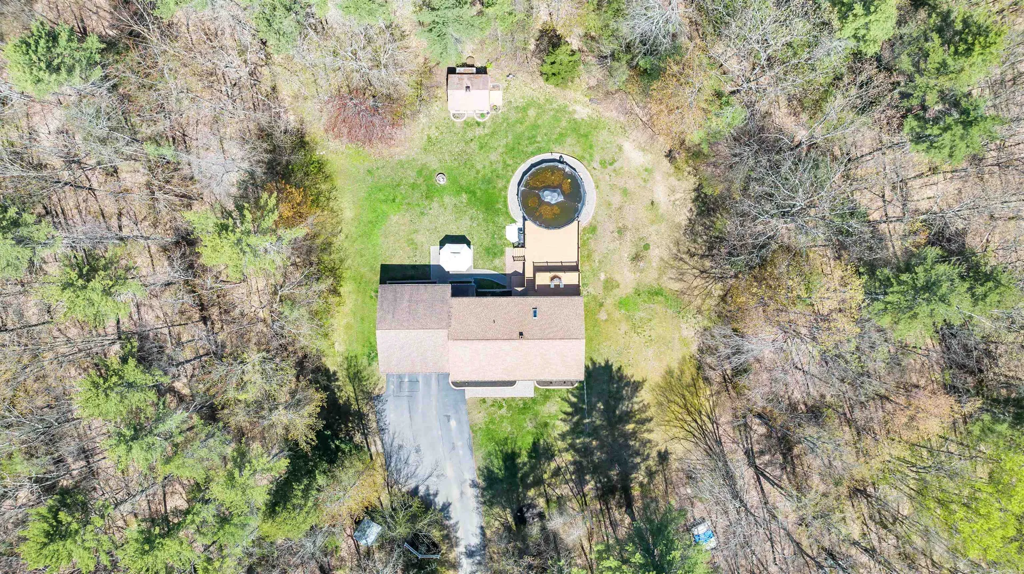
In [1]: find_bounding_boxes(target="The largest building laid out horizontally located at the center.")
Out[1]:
[376,283,585,382]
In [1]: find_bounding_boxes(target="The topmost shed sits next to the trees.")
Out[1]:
[447,68,489,115]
